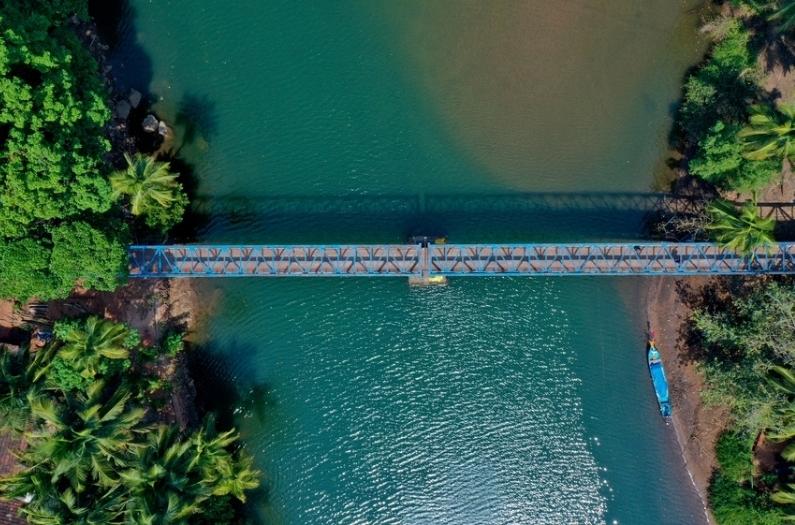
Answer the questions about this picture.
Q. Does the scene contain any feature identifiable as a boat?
Yes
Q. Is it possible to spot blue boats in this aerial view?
Yes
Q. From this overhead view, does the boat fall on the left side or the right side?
right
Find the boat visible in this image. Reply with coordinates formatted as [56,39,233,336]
[642,320,672,422]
